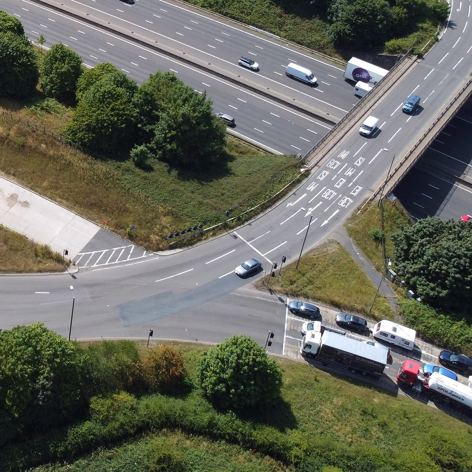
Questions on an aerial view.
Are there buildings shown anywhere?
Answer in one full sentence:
No, this view has no building in it.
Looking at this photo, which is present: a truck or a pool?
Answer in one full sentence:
It is a truck that can be seen here.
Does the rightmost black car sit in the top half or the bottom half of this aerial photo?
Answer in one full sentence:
You can find the rightmost black car in the bottom half.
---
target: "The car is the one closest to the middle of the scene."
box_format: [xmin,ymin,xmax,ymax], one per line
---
[235,258,262,275]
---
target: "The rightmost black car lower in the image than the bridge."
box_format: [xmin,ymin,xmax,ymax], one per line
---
[441,352,472,372]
